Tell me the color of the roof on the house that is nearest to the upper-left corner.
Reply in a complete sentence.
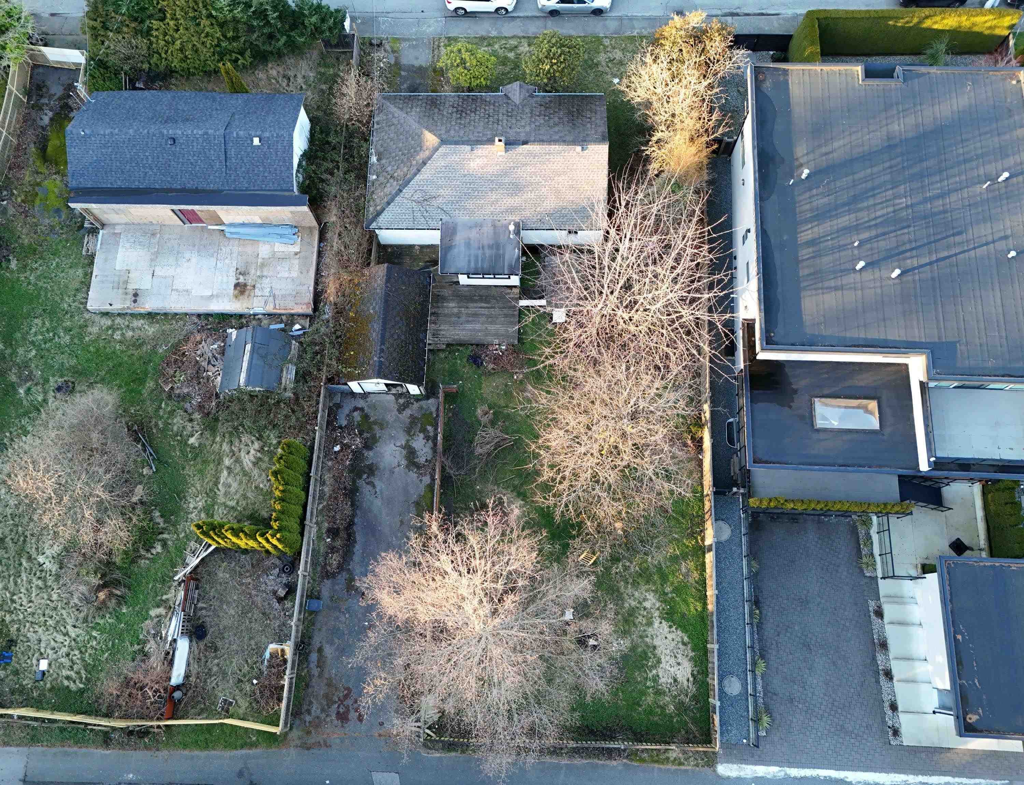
The roof over the house that is nearest to the upper-left corner appears blue.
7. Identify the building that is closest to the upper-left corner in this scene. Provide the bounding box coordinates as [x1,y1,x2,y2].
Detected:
[66,91,321,227]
